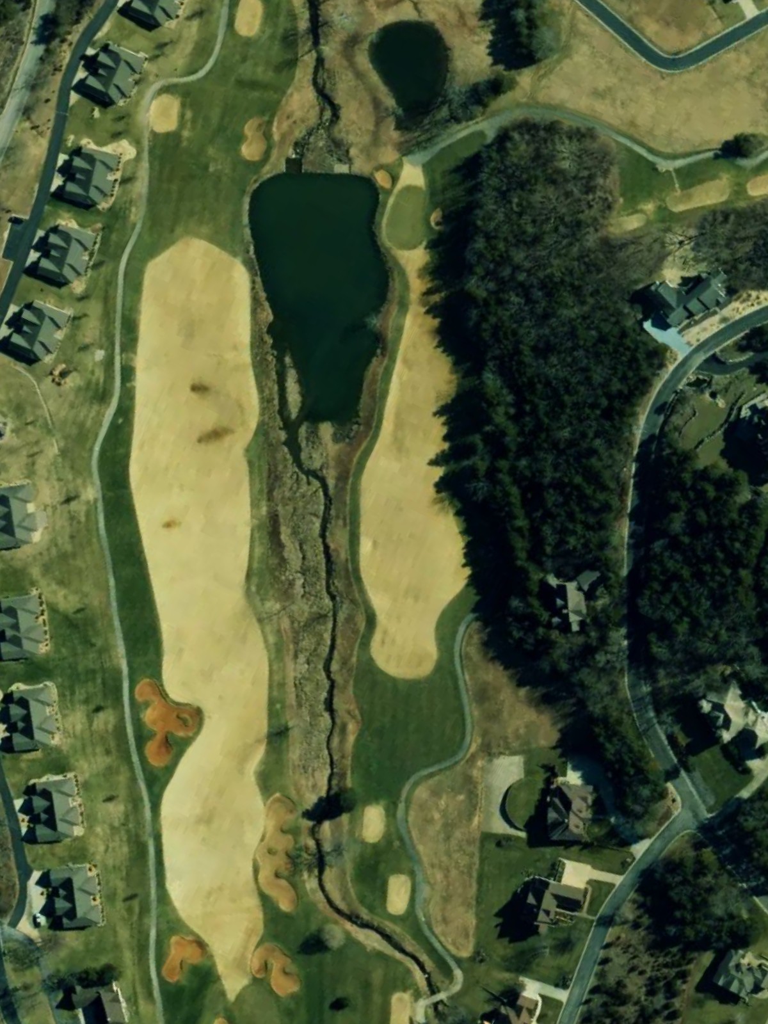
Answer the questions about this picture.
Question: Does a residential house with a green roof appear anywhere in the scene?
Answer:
Yes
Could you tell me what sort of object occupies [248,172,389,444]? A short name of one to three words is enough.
pond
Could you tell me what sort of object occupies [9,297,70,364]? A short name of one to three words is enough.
house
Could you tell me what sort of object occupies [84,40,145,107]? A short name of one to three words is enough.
house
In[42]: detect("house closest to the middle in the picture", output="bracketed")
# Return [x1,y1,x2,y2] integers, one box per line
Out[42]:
[546,568,605,633]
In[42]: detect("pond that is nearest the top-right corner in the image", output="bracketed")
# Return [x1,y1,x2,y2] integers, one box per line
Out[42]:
[369,20,451,120]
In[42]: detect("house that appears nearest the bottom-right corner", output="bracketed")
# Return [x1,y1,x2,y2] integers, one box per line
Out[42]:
[709,950,768,1009]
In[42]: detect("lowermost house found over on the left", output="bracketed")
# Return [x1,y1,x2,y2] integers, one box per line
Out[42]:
[70,990,124,1024]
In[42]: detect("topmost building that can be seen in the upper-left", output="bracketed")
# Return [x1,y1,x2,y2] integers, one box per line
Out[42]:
[130,0,182,31]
